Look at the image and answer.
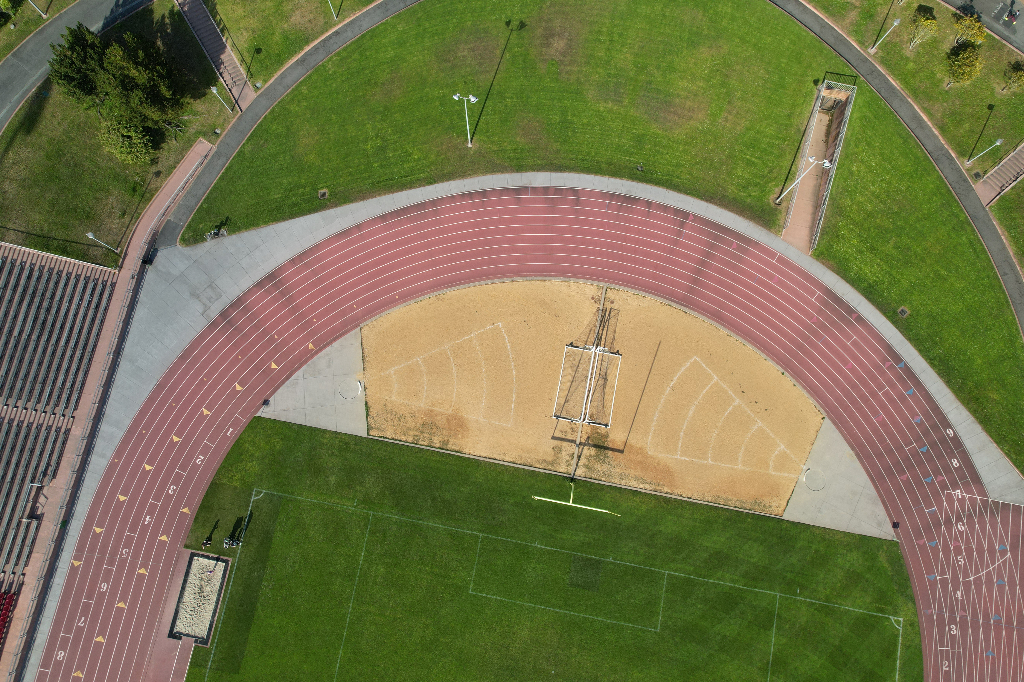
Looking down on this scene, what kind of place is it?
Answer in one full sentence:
The area seen from above is a sports ground.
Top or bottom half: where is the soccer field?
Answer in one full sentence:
The soccer field sits in the bottom half of the picture.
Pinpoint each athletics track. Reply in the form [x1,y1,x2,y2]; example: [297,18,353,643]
[32,183,1024,682]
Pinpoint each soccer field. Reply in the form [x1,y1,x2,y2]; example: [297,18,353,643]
[184,414,923,682]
